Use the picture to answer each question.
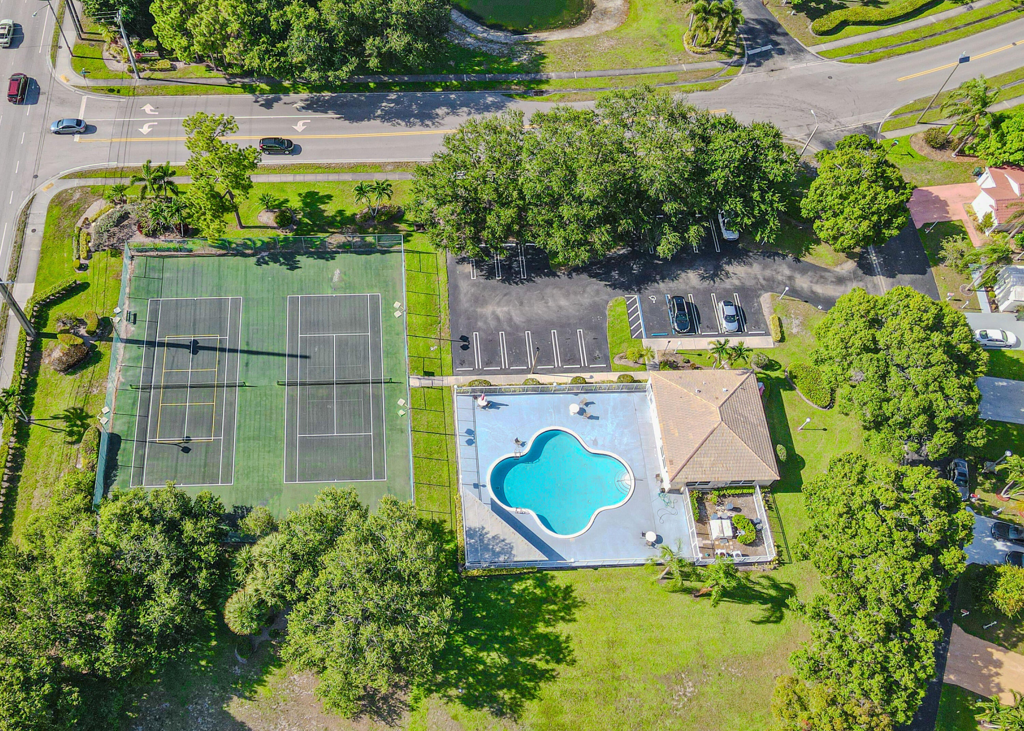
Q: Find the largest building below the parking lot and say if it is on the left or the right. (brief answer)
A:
right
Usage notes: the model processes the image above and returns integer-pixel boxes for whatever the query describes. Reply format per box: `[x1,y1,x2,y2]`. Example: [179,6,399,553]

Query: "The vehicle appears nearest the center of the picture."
[668,297,692,334]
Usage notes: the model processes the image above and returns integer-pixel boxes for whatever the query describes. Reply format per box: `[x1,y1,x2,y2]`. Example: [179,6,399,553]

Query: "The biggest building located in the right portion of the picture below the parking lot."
[647,368,781,490]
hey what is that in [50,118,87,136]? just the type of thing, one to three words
car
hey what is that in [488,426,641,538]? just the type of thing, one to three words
swimming pool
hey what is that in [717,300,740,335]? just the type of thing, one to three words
car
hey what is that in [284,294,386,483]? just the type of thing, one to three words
tennis court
